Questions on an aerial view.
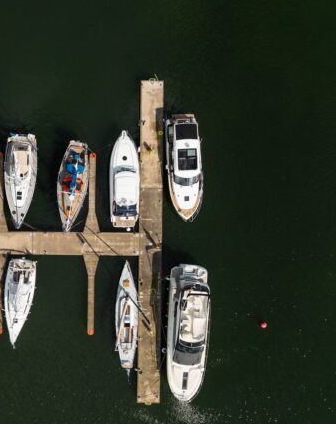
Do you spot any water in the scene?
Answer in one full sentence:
Yes, the picture does contain water.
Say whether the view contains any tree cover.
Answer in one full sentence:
No, there is no tree cover in the image.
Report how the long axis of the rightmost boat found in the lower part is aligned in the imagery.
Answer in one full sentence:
The rightmost boat found in the lower part is oriented vertically.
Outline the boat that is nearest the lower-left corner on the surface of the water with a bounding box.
[1,256,38,351]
